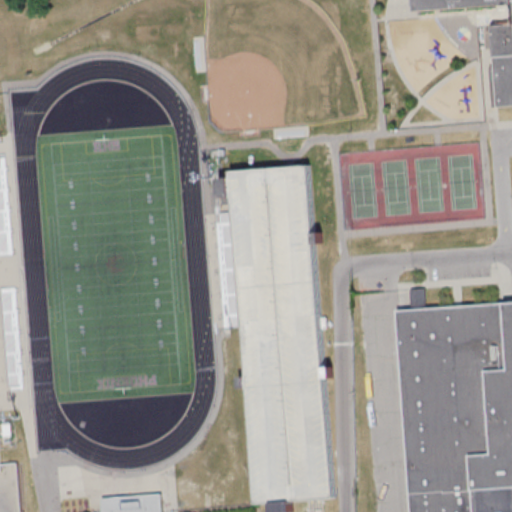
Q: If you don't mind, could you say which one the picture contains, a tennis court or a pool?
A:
tennis court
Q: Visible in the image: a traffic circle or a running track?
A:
running track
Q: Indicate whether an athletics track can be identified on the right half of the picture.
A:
No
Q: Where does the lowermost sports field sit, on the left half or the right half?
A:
left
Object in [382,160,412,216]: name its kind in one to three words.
tennis court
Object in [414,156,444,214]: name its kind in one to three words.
tennis court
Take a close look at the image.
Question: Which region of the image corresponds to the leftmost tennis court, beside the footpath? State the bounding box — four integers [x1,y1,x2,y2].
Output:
[348,162,378,220]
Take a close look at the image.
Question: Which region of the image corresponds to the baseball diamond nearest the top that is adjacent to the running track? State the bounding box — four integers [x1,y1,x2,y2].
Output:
[206,0,365,130]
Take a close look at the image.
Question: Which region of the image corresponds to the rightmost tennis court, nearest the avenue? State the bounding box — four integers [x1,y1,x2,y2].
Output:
[448,154,478,211]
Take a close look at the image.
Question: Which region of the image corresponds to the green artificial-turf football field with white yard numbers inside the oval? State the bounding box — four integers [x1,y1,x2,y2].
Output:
[38,126,195,404]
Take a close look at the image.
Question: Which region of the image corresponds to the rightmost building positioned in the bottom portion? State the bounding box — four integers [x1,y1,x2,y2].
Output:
[396,287,512,512]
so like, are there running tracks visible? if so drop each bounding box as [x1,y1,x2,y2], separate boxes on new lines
[13,62,215,466]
